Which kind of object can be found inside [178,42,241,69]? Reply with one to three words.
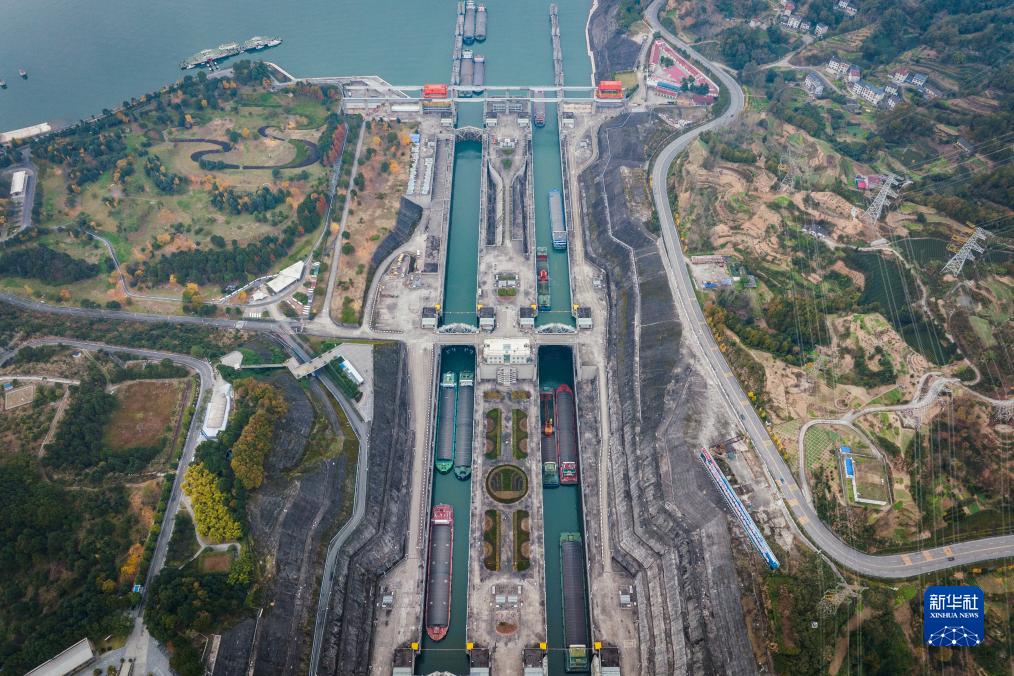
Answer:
pier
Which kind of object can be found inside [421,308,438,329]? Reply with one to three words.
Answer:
house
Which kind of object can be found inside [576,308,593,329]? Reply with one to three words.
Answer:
house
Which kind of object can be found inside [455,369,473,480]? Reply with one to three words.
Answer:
ship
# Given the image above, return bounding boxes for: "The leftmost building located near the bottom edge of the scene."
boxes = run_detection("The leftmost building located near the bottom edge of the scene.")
[15,634,99,676]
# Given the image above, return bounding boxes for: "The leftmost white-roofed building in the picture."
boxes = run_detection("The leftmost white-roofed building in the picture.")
[5,176,27,200]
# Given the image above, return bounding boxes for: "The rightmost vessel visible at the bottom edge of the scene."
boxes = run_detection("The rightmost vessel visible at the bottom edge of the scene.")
[560,531,591,668]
